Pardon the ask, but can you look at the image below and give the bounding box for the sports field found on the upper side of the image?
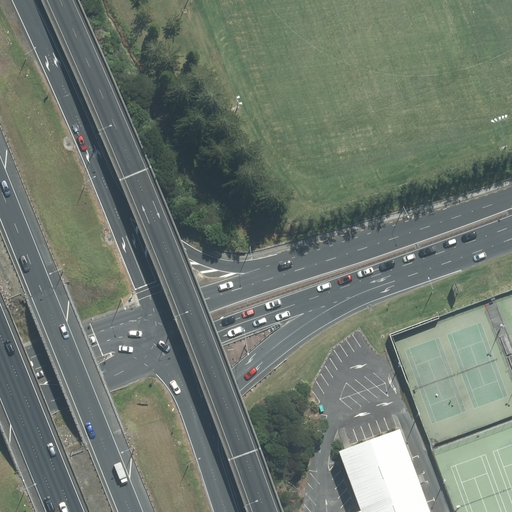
[198,0,512,220]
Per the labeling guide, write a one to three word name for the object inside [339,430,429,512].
building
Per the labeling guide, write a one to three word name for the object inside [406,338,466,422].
tennis court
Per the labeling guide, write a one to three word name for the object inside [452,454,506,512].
tennis court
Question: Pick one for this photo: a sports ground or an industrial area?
sports ground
